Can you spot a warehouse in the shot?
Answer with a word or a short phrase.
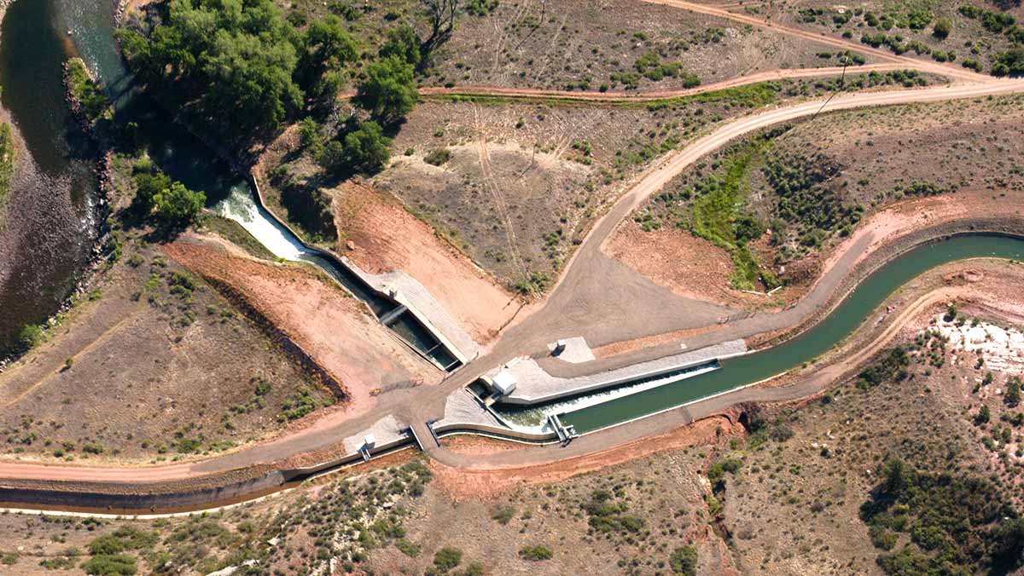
No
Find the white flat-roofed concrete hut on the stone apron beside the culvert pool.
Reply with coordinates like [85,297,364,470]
[491,368,518,394]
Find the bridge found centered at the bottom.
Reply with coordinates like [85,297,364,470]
[401,420,440,451]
